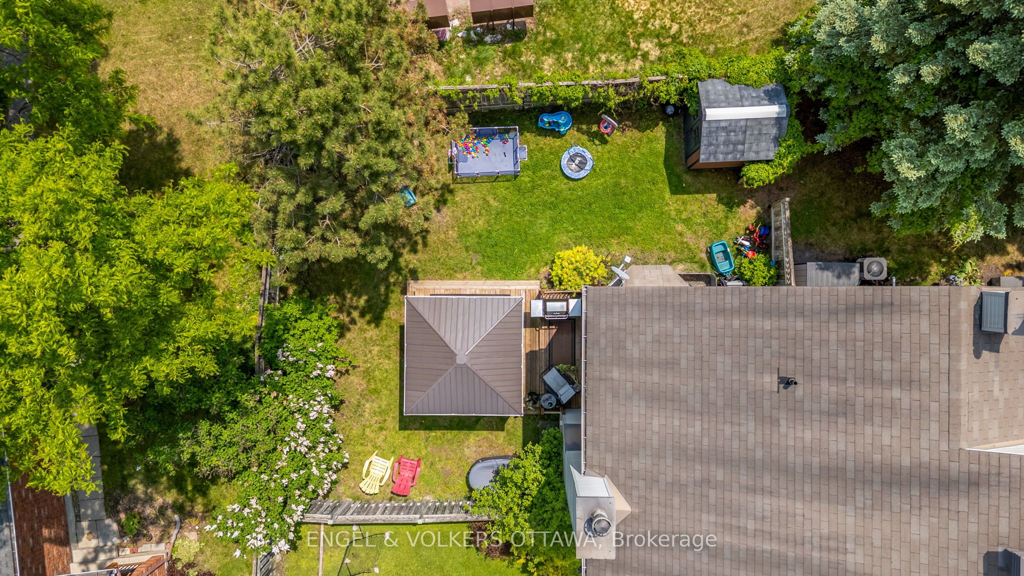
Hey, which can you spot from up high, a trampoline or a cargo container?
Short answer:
trampoline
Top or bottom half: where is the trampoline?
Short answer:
top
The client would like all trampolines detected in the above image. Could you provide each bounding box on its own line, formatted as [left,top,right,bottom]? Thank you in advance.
[560,143,595,180]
